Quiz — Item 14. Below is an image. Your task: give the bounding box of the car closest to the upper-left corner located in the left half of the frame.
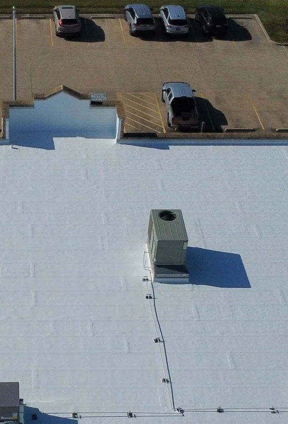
[52,1,81,32]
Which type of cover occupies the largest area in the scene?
buildings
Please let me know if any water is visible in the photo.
No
